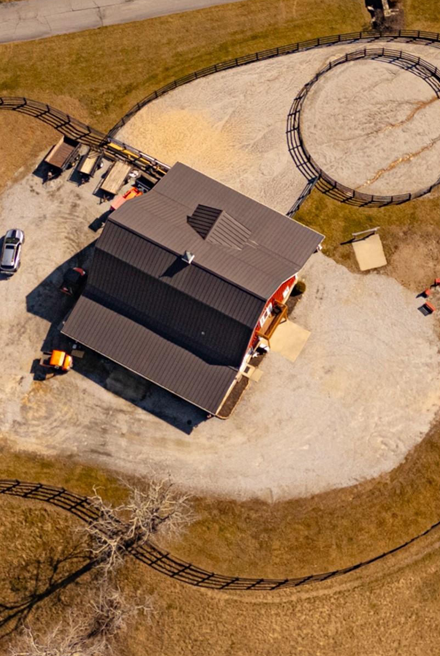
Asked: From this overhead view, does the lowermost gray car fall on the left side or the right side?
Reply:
left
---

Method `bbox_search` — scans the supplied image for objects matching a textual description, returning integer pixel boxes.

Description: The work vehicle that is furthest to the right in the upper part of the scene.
[114,183,151,210]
